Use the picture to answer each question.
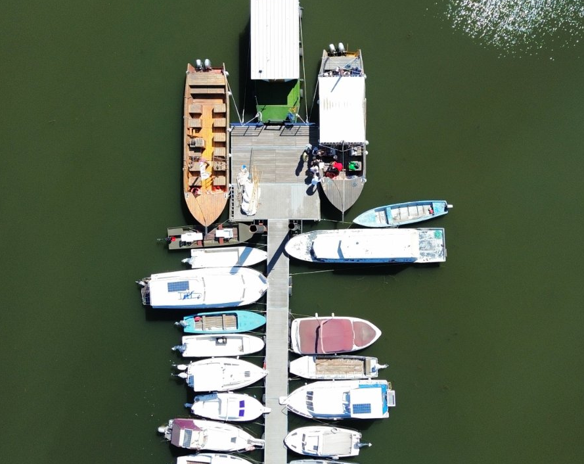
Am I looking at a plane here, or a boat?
boat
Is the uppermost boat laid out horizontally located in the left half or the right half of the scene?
right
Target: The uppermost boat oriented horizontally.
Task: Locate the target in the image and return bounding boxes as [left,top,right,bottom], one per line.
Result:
[322,200,454,228]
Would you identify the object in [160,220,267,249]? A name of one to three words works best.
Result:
boat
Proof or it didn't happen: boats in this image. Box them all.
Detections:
[322,200,454,228]
[171,334,266,357]
[129,268,269,309]
[310,45,368,221]
[290,313,383,354]
[183,392,271,425]
[160,220,267,249]
[177,356,269,393]
[154,419,265,455]
[178,452,262,464]
[285,228,447,274]
[284,417,371,459]
[279,378,395,427]
[181,247,268,269]
[289,354,390,380]
[173,310,267,336]
[183,60,241,235]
